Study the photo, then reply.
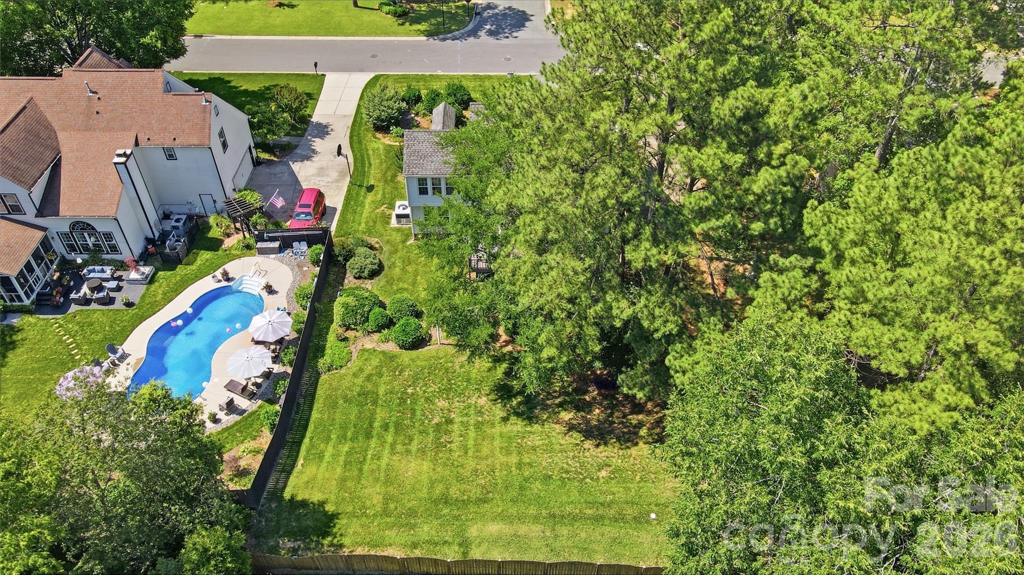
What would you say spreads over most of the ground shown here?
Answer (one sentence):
Most of the picture is covered by trees.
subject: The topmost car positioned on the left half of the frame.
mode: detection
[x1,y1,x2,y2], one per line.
[291,192,329,228]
